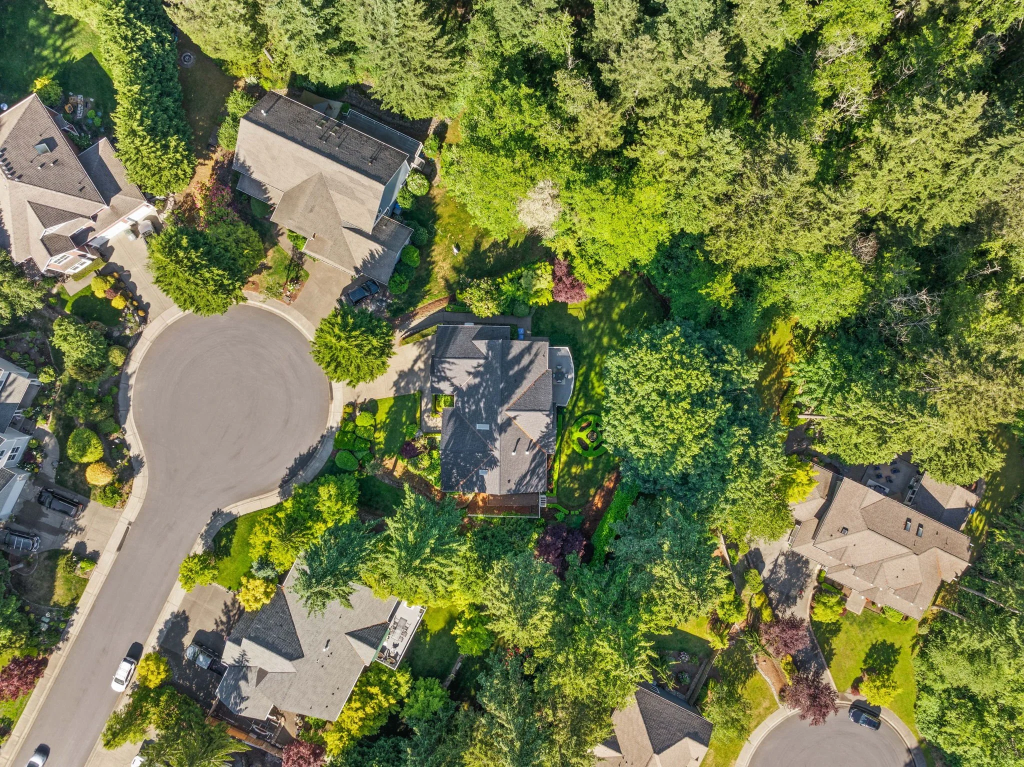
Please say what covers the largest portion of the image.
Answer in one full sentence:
The scene is dominated by trees.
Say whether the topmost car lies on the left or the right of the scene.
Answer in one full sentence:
It is on the left.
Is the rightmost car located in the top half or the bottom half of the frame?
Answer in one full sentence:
The rightmost car is in the bottom half of the image.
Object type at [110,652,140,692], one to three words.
car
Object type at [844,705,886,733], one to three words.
car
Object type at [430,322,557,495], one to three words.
house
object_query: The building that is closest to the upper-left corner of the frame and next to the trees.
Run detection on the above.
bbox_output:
[0,93,151,274]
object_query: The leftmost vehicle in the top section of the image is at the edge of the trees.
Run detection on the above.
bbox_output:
[137,224,166,264]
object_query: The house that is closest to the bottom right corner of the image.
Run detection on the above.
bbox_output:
[776,458,979,621]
